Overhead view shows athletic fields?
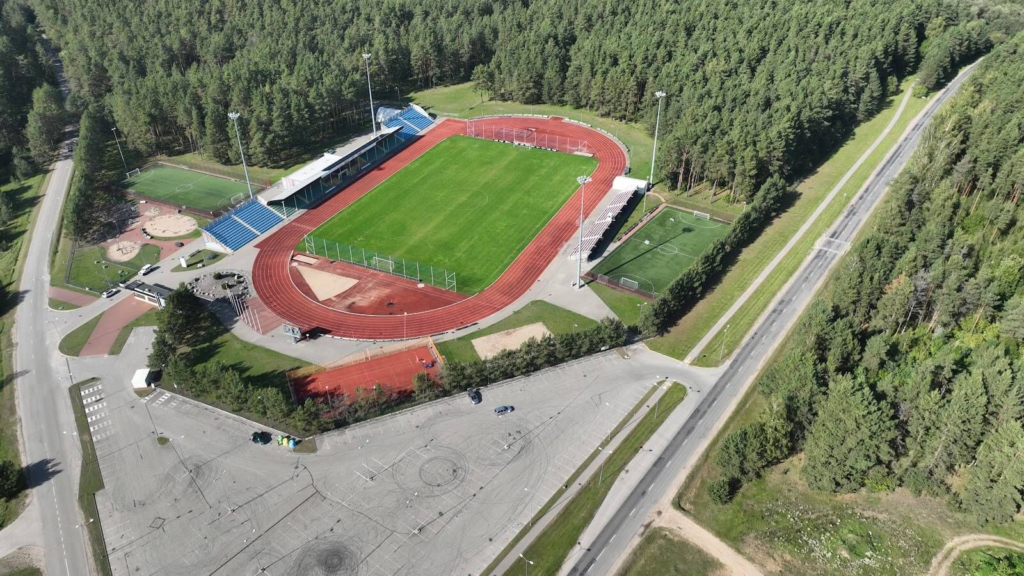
Yes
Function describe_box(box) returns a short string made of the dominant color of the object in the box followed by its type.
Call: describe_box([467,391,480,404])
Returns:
gray vehicle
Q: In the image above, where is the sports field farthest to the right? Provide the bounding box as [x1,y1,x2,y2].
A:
[593,208,723,292]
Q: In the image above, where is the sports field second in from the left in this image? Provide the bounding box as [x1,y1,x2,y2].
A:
[293,133,600,297]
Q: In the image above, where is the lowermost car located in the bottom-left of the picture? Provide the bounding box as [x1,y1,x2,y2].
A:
[248,431,268,445]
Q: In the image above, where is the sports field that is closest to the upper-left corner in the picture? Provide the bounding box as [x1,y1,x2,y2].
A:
[114,163,256,210]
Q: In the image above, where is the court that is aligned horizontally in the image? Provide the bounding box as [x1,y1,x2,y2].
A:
[288,344,435,411]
